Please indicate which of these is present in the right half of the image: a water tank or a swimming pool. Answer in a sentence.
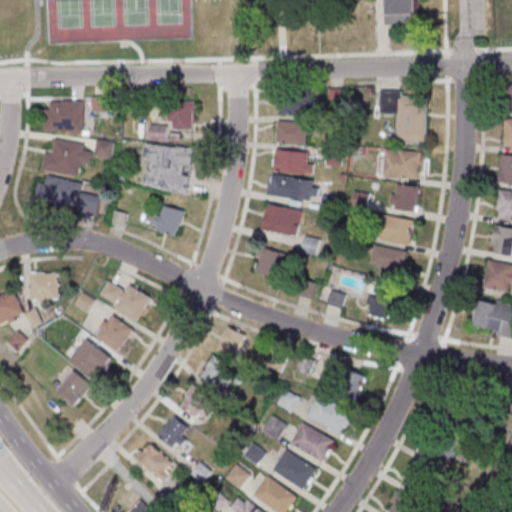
Visible in the right half of the image is a swimming pool.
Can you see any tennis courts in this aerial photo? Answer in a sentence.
Yes, looking at the shot, I can spot a tennis court.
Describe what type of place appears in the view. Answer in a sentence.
The area seen from above is a residential area.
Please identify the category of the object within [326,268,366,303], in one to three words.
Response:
swimming pool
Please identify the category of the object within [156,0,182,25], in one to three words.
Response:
tennis court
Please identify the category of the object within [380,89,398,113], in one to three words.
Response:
building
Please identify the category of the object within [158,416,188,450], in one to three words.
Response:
house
